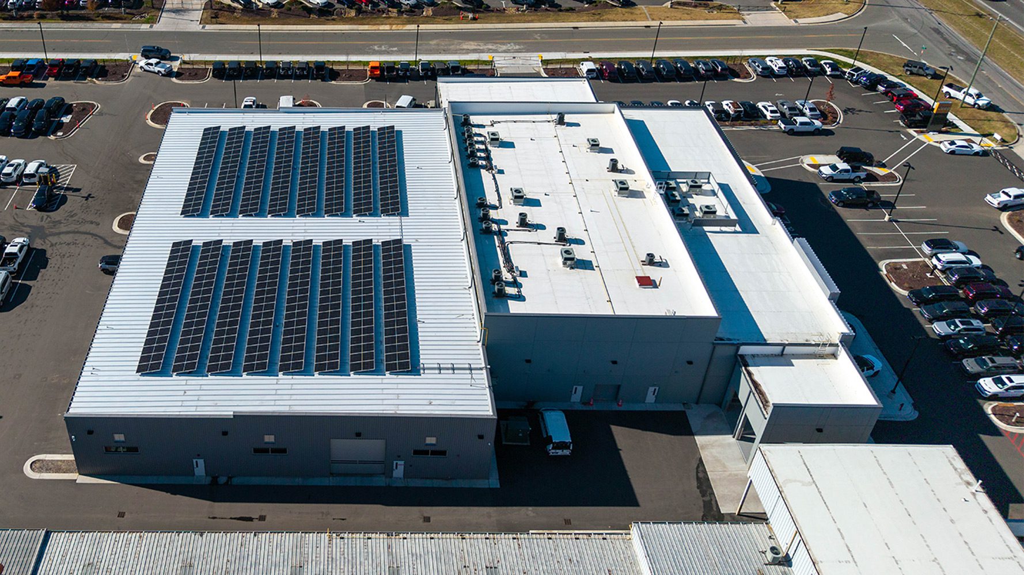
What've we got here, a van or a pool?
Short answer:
van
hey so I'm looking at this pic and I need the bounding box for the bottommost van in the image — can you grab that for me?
[536,406,573,459]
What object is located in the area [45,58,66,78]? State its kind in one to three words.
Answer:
vehicle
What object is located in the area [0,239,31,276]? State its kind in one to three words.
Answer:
truck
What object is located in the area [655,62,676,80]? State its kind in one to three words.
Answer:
car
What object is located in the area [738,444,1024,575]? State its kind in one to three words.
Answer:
building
